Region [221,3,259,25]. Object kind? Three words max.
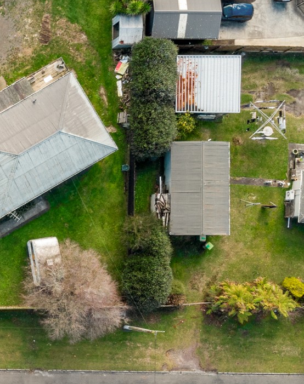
car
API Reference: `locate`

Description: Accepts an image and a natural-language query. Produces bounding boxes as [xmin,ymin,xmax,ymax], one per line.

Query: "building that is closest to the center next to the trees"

[161,141,230,235]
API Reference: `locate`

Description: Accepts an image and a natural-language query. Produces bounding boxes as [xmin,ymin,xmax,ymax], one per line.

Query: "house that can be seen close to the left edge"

[0,72,119,220]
